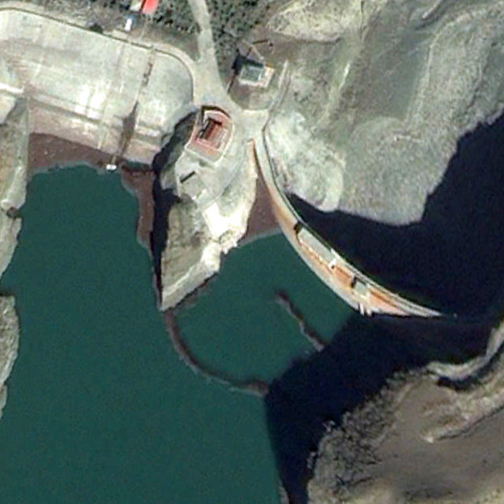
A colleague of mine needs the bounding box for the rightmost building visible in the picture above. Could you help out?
[240,66,264,82]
